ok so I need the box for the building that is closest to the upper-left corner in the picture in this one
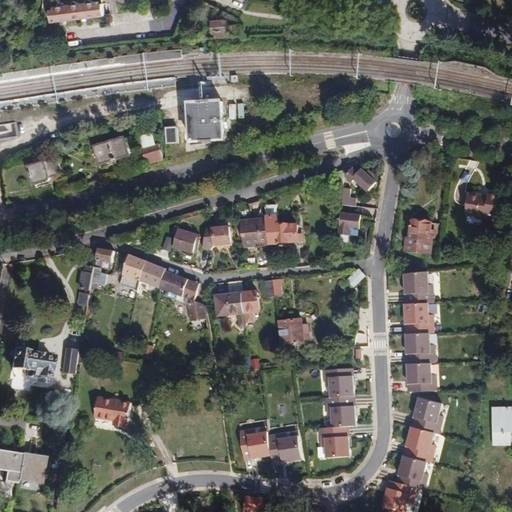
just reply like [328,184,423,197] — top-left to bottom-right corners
[48,2,107,25]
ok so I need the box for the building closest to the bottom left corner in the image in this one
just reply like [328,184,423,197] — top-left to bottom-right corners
[0,450,50,488]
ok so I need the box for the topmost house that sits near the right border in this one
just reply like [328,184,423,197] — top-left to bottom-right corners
[464,191,494,214]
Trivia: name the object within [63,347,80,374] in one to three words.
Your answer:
barn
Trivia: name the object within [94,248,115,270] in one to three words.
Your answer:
house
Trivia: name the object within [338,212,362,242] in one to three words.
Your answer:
house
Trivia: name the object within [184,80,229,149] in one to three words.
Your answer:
building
